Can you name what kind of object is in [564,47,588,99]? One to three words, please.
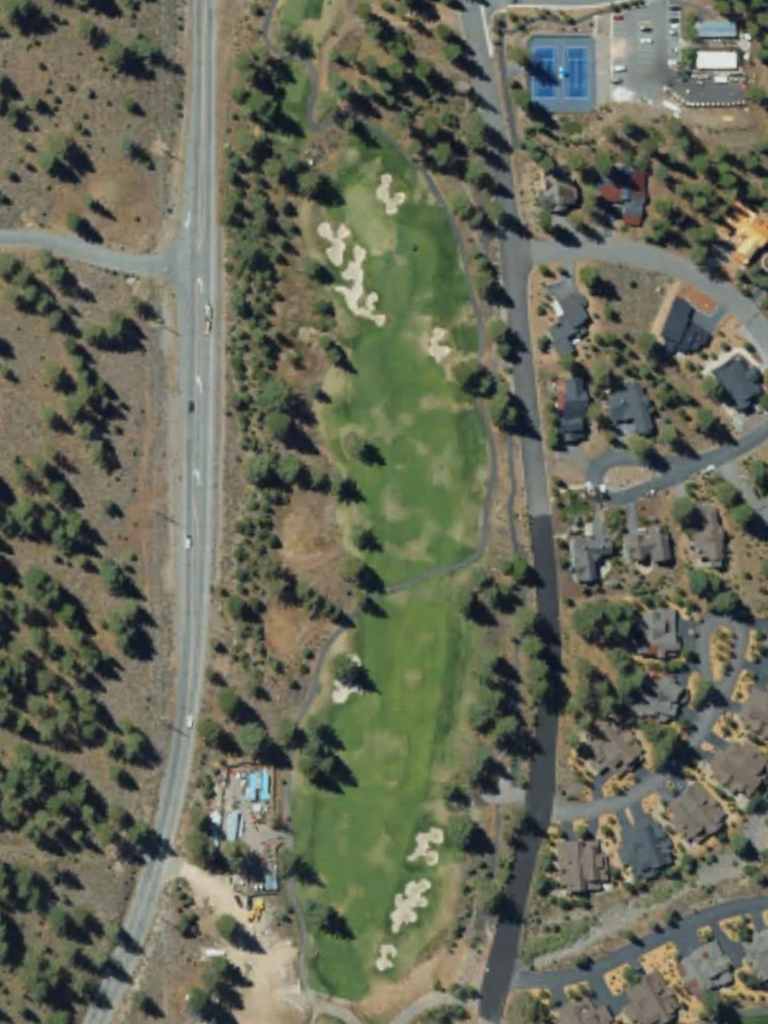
tennis court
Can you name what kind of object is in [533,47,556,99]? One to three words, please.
tennis court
